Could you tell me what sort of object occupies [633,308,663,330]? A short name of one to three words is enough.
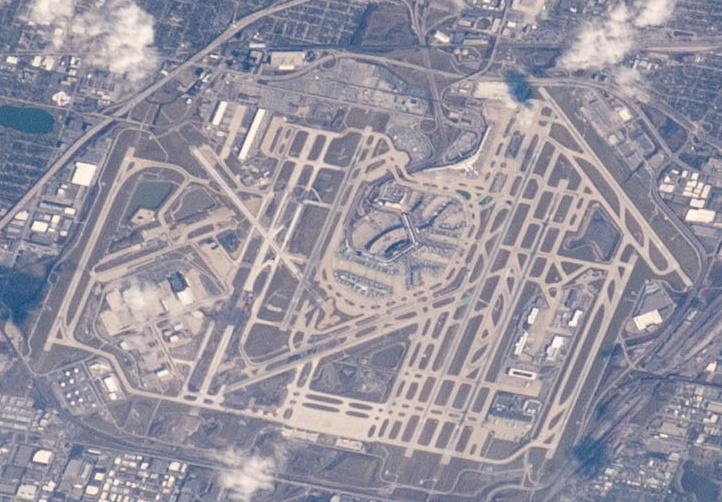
building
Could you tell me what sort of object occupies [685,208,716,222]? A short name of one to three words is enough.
building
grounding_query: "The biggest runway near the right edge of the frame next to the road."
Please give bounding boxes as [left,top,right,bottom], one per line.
[537,84,694,286]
